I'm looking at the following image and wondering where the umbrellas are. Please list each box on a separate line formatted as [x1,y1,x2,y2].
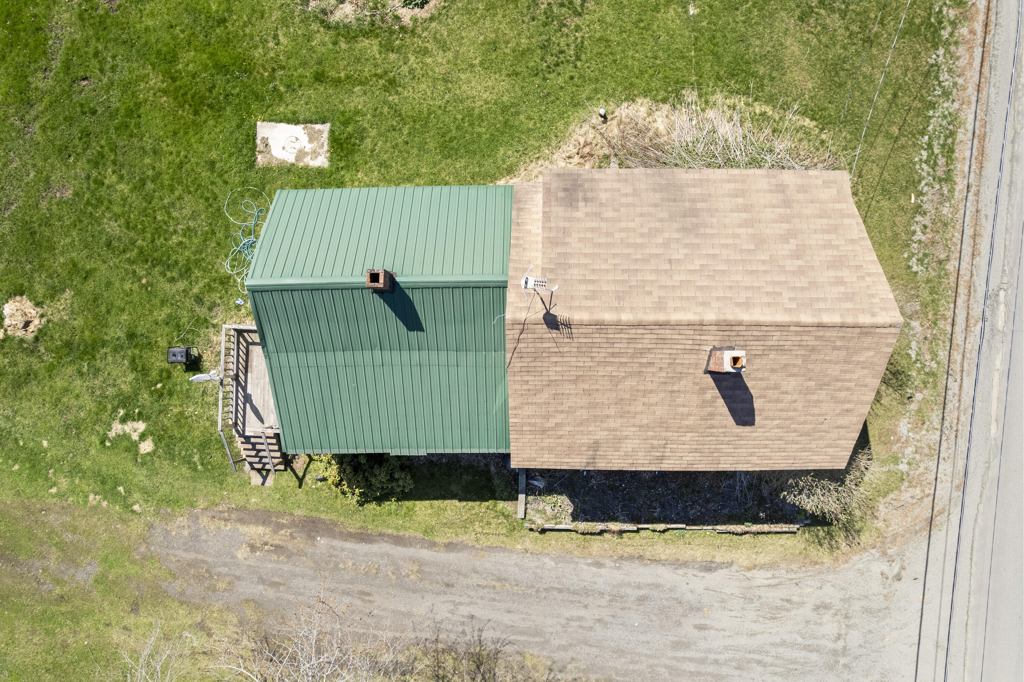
[196,369,234,384]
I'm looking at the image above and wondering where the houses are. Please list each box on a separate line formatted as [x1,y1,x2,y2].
[244,168,902,471]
